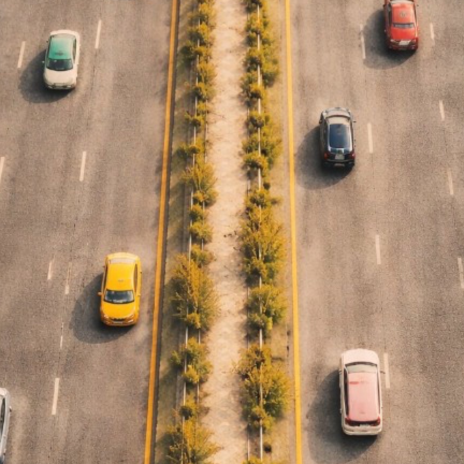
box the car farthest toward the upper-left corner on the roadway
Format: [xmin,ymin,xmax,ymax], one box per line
[41,30,79,89]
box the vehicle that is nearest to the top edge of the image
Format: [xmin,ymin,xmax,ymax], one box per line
[382,0,420,50]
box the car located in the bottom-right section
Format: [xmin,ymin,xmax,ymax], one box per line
[337,349,385,435]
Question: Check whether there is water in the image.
No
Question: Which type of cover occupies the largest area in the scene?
paved ground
